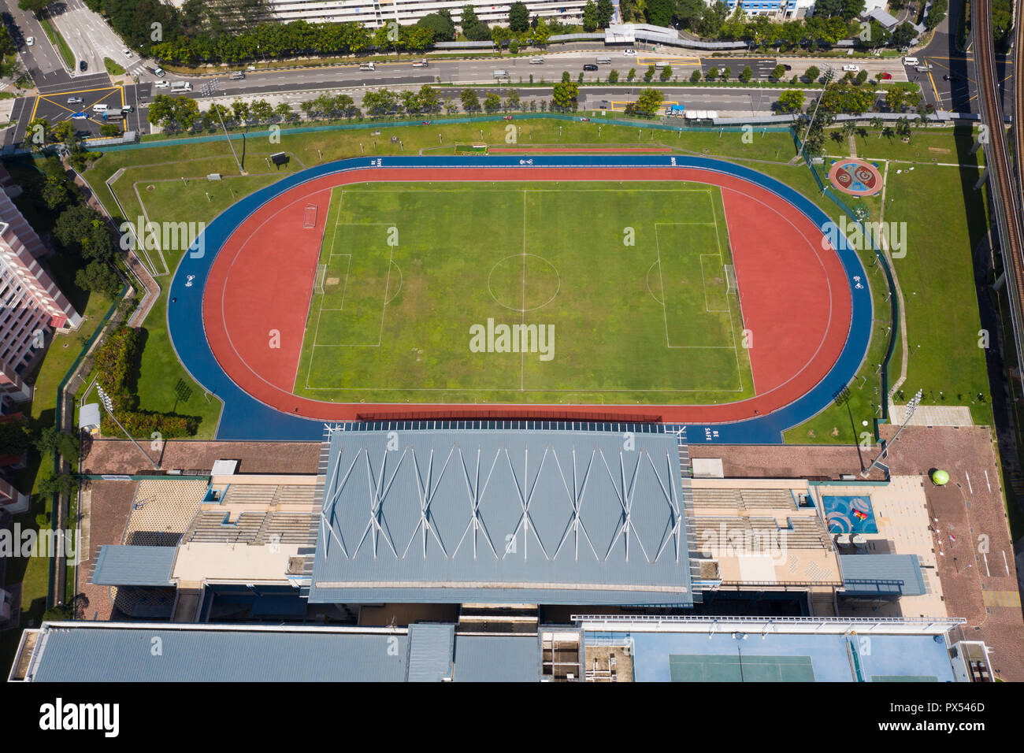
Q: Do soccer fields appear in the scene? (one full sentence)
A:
Yes, there's a soccer field down there.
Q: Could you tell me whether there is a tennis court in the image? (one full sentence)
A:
Yes, the picture does show a tennis court.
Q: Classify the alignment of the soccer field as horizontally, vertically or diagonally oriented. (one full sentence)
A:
Seen from above, the soccer field lies horizontally.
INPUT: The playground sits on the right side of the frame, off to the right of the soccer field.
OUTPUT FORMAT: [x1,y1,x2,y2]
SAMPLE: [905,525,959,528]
[829,159,883,196]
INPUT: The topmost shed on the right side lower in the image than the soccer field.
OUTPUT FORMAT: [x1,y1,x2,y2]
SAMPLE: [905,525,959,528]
[691,458,724,478]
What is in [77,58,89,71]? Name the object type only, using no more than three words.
vehicle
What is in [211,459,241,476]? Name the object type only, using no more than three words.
shed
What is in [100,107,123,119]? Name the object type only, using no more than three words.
vehicle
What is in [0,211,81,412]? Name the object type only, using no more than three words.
building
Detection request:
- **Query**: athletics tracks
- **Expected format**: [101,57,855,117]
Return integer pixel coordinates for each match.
[166,154,874,444]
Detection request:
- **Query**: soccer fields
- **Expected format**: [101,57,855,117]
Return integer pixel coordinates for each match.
[292,181,757,406]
